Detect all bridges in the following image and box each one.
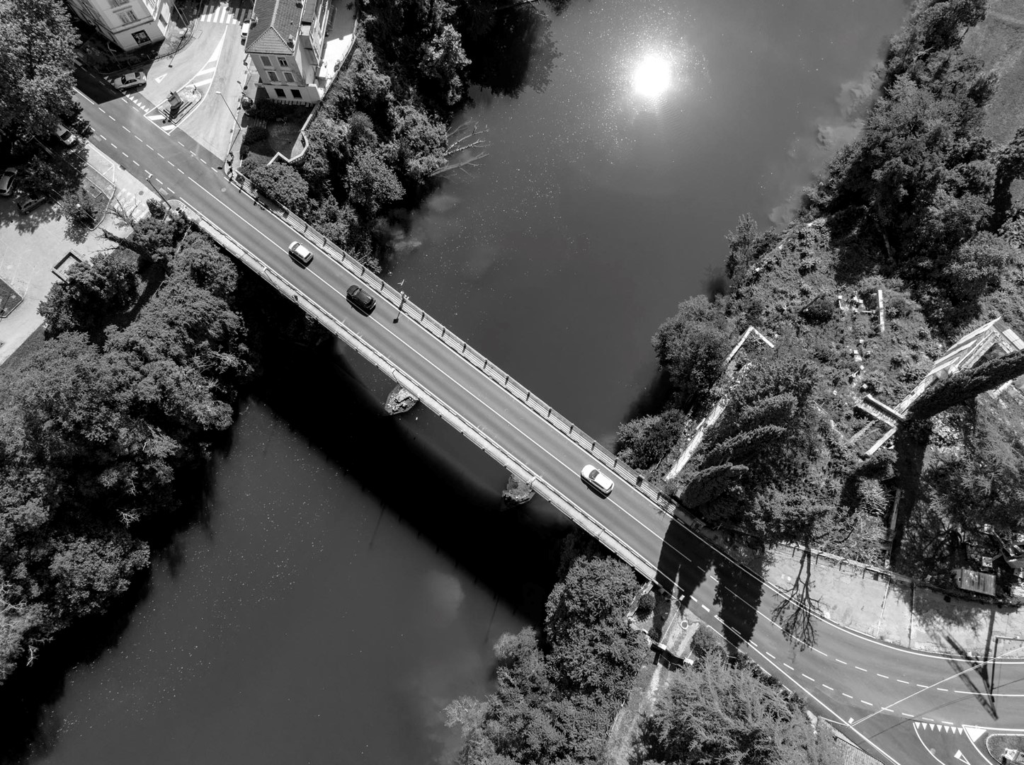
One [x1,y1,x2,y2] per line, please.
[188,170,711,594]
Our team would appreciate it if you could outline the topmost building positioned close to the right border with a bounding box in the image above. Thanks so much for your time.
[924,317,1024,378]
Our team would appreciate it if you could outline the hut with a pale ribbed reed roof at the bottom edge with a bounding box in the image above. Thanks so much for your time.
[828,737,881,765]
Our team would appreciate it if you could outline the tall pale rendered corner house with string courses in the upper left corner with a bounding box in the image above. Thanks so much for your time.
[63,0,174,50]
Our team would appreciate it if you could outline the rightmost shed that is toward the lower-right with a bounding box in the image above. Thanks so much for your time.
[950,569,996,596]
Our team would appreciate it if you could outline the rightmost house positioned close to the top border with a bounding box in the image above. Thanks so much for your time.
[246,0,335,101]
